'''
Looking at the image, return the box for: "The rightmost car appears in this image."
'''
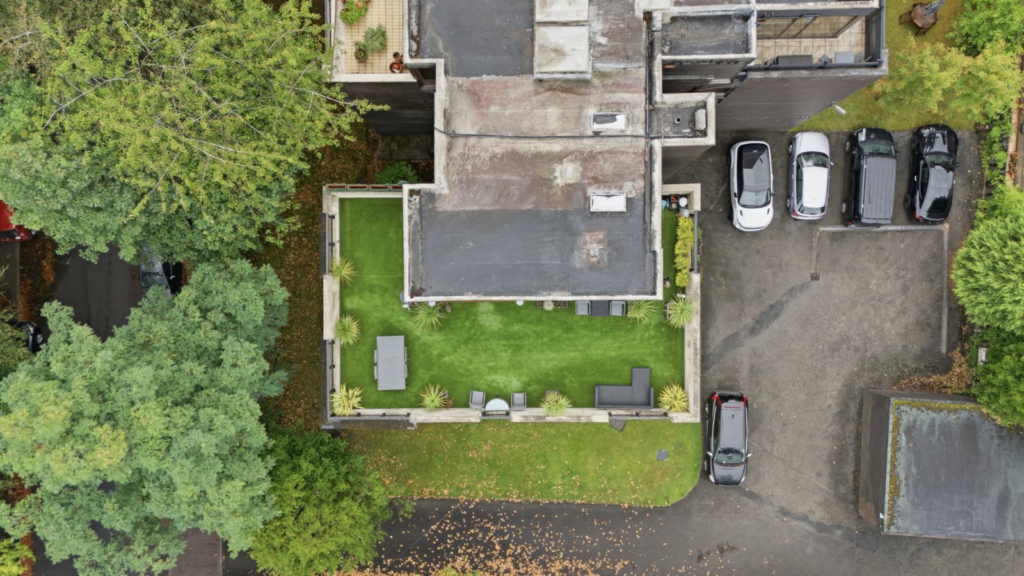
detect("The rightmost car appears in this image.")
[899,125,958,225]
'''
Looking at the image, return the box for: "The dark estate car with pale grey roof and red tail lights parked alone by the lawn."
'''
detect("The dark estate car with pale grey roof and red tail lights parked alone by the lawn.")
[704,390,752,484]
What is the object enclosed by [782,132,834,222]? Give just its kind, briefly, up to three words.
car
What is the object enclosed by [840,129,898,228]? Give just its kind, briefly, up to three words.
car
